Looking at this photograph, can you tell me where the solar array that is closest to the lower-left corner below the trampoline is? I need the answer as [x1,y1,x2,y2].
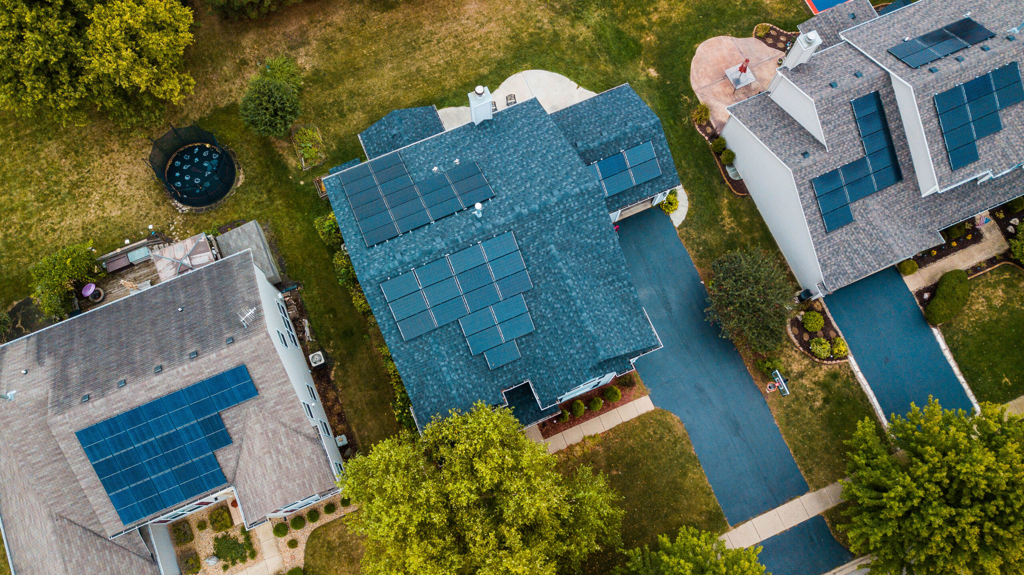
[76,366,259,525]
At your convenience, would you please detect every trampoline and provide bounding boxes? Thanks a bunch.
[143,118,238,210]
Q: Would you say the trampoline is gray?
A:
No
